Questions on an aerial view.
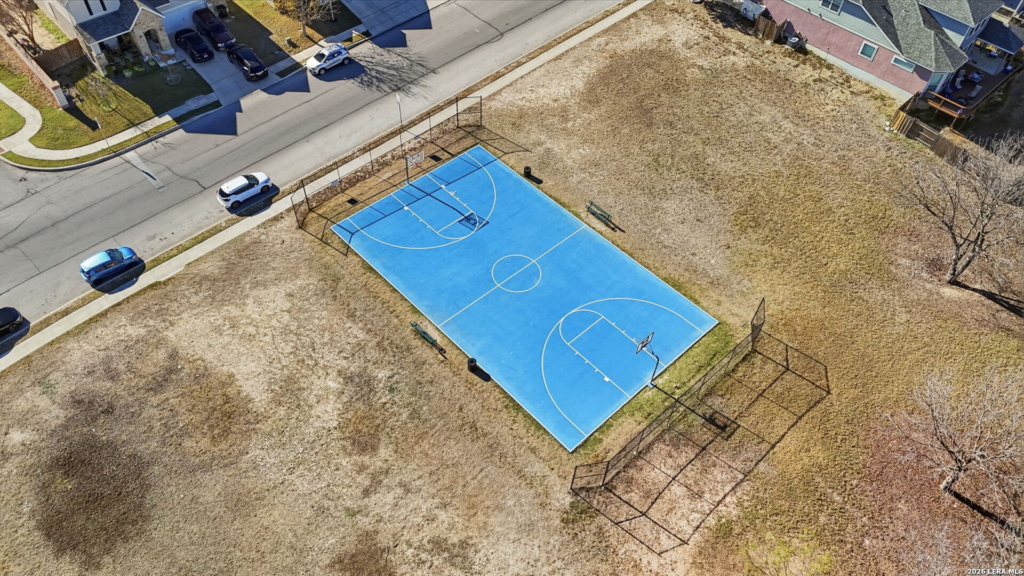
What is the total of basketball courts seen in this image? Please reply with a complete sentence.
Just 1 basketball court appears in this view.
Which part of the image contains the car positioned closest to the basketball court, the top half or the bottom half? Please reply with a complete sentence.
The car positioned closest to the basketball court sits in the top half of the picture.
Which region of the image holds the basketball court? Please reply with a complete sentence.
The basketball court appears toward the center of the photo.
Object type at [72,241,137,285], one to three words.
car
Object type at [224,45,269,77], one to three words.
car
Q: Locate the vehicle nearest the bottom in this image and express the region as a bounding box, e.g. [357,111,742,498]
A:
[0,303,26,335]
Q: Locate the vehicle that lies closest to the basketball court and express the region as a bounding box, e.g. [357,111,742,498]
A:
[213,171,271,210]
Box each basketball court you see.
[331,145,718,452]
